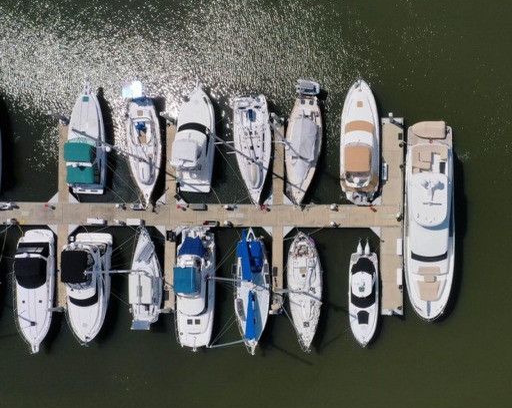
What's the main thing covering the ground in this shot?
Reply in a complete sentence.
Most of the picture is covered by water.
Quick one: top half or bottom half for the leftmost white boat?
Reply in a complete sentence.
The bottom half of the photo is where the leftmost white boat is.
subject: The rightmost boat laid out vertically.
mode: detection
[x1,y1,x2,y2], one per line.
[401,126,455,320]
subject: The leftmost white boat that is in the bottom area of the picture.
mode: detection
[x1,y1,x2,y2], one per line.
[2,222,63,353]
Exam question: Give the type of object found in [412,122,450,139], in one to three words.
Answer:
boat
